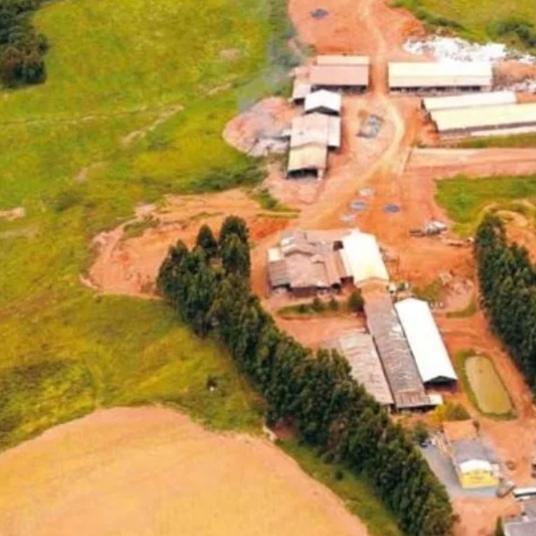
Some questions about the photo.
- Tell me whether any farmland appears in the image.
Yes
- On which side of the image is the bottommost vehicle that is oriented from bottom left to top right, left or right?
right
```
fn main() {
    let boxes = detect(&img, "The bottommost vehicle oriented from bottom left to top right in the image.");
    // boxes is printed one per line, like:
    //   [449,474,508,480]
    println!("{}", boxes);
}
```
[496,477,516,498]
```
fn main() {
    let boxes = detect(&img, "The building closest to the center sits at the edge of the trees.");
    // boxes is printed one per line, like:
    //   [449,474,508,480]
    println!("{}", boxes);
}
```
[268,231,351,298]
